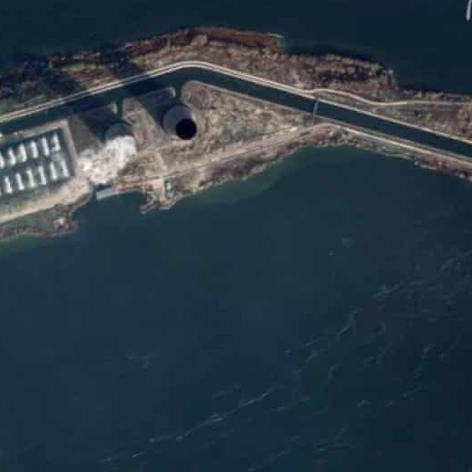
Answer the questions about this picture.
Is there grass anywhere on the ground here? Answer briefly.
No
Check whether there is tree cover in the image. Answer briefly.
No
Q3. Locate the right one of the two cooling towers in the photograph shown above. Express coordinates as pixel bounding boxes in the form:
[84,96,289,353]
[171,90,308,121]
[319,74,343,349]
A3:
[161,102,197,140]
